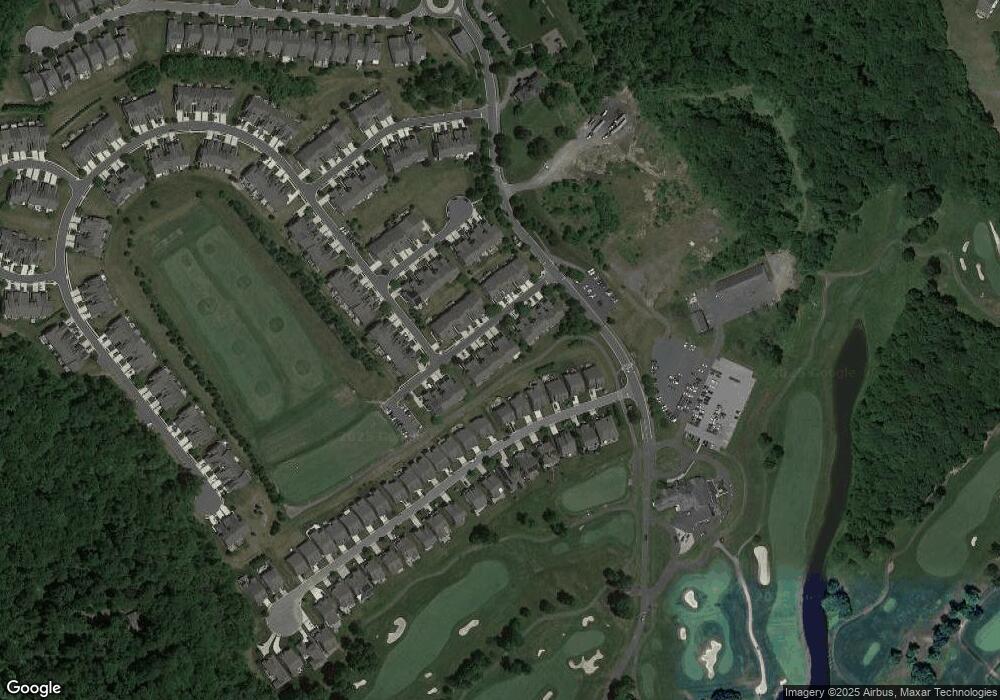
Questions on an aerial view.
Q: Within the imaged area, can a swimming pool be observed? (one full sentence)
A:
No, there isn't any swimming pool down there.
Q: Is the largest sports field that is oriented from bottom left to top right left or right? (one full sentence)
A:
The largest sports field that is oriented from bottom left to top right sits on the left side.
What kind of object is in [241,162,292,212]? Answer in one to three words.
house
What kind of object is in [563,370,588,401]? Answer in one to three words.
house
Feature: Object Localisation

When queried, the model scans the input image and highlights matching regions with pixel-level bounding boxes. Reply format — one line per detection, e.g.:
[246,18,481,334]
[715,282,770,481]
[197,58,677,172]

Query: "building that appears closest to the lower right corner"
[653,476,713,527]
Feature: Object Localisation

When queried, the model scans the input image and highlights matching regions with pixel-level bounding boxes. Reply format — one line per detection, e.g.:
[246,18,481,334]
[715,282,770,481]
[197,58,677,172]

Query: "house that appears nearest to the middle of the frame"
[462,332,520,386]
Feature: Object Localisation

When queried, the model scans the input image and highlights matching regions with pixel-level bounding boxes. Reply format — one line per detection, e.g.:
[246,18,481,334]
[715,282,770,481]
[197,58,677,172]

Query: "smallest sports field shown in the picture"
[258,397,376,465]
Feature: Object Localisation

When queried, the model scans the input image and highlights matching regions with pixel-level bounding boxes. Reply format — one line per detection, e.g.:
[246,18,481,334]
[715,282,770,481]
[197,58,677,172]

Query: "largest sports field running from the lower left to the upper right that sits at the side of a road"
[271,409,402,505]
